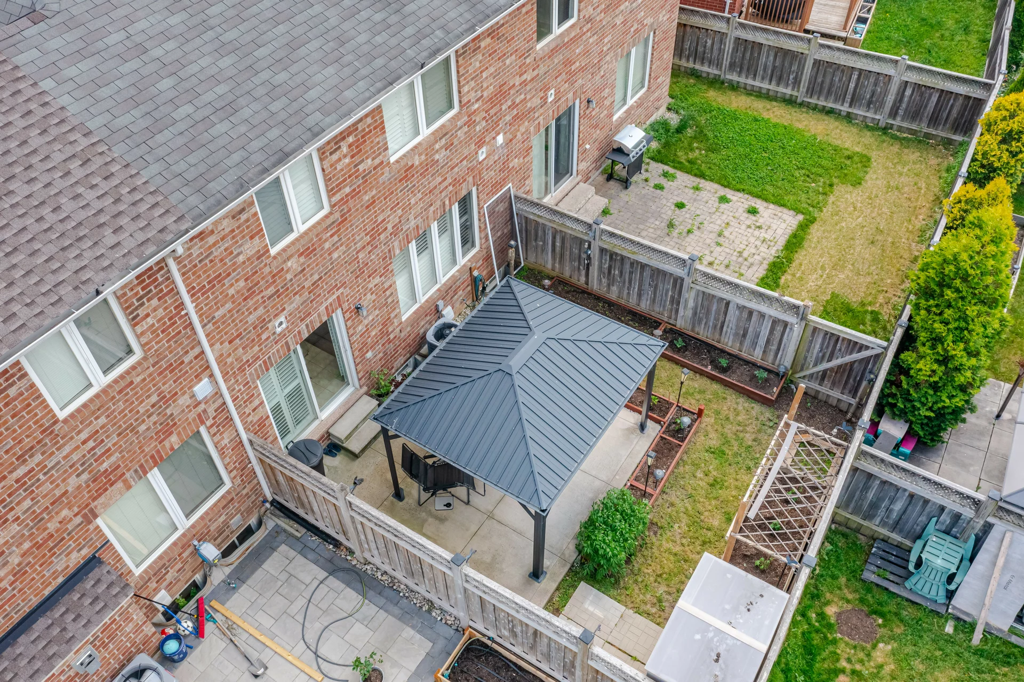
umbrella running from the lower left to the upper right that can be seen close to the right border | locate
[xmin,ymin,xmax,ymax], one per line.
[993,370,1024,420]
